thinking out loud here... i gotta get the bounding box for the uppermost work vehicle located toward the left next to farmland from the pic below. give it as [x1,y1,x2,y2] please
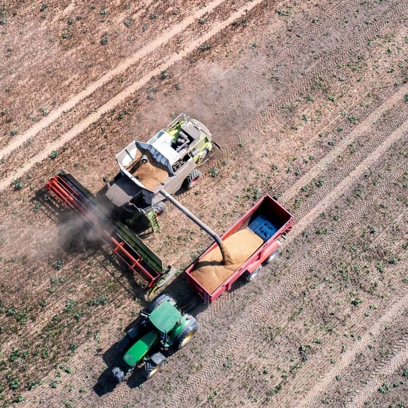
[45,113,222,299]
